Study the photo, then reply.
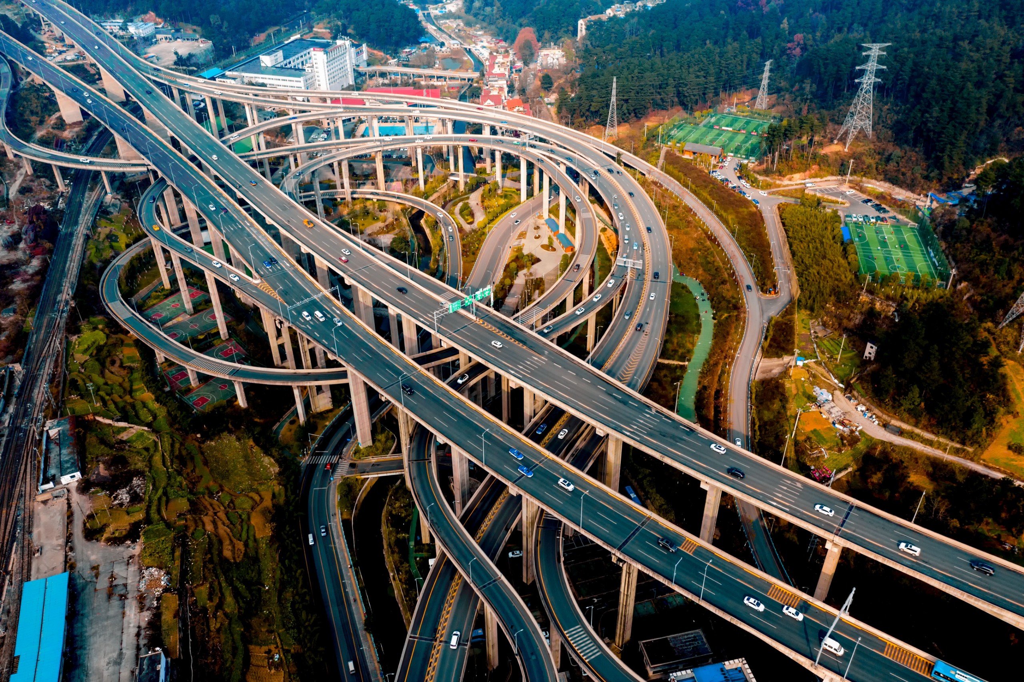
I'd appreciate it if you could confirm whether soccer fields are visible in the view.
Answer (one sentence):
Yes, the picture does show a soccer field.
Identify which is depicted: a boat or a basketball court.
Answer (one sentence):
Looking from above, you can make out a basketball court.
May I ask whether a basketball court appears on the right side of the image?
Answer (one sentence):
No, I see no basketball court on the right side of the image.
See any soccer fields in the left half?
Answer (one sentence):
No, no soccer field can be made out in the left half.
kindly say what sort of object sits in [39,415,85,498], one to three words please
building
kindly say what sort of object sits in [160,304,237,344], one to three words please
basketball court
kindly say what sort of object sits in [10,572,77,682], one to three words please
shed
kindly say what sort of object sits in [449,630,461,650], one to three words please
vehicle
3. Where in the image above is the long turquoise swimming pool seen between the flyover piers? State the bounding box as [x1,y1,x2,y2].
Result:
[356,122,440,139]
